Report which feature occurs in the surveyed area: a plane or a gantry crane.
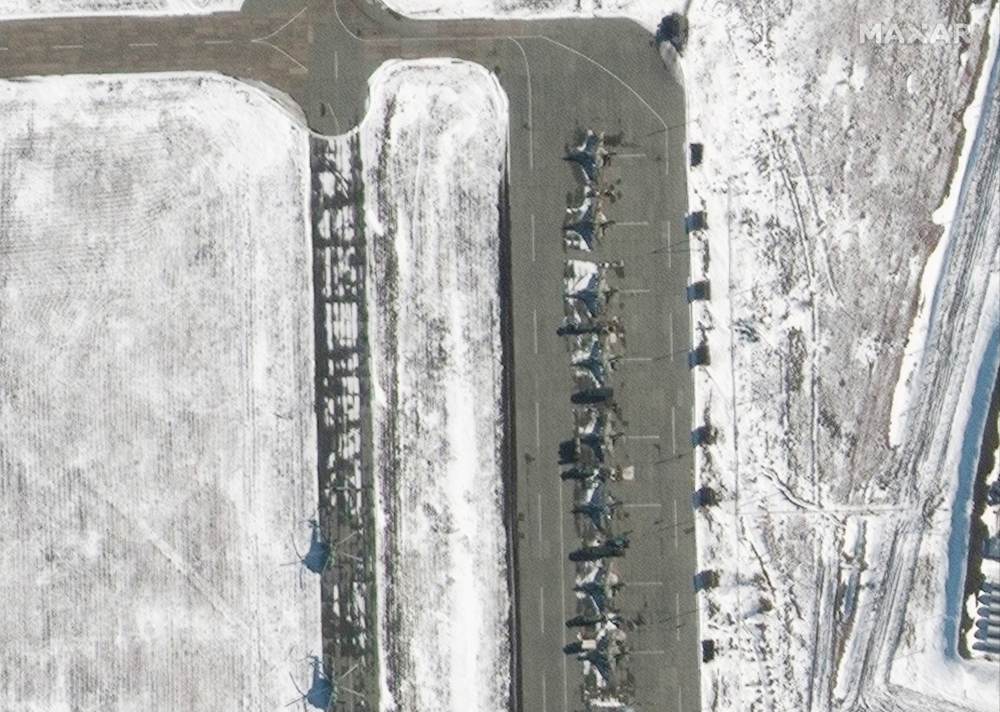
plane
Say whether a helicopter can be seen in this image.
Yes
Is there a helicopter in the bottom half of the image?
Yes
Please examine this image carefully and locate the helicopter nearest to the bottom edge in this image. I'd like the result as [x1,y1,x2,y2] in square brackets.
[302,649,357,712]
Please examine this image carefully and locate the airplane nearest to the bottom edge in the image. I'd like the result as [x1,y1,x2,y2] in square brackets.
[585,630,631,680]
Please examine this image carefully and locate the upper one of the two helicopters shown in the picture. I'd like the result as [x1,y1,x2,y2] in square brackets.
[301,514,356,581]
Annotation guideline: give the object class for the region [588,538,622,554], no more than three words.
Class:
vehicle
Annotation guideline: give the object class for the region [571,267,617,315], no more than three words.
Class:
airplane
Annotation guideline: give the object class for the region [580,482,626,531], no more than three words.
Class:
airplane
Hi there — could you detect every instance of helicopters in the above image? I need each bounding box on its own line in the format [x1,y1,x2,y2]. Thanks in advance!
[301,514,356,581]
[302,649,357,712]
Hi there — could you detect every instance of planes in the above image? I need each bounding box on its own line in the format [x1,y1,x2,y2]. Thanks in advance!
[585,630,631,680]
[584,412,629,461]
[571,267,617,315]
[580,482,626,531]
[581,561,627,610]
[579,334,624,384]
[571,197,617,247]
